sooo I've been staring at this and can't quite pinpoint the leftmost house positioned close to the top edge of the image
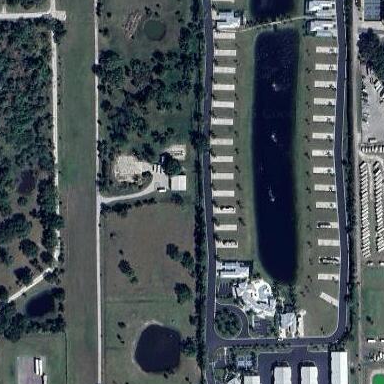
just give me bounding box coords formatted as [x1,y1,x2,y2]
[216,11,244,28]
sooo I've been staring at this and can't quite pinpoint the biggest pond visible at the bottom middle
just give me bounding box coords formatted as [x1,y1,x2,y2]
[135,323,181,372]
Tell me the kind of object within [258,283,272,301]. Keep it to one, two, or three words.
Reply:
swimming pool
